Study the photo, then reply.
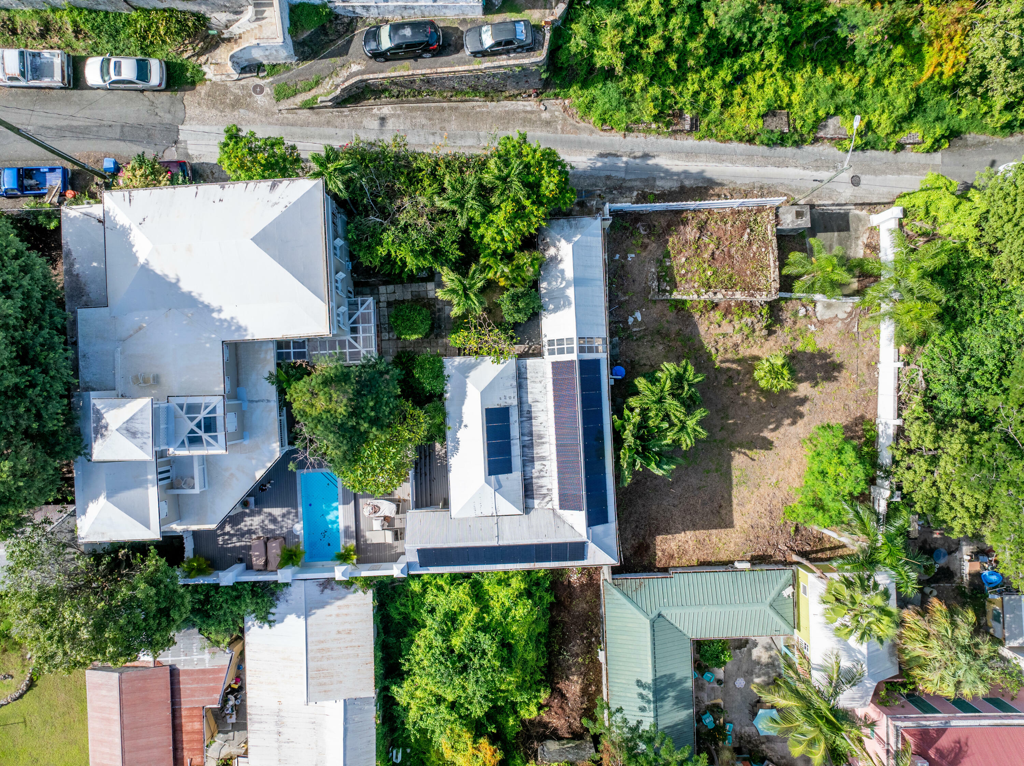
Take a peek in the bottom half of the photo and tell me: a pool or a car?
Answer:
pool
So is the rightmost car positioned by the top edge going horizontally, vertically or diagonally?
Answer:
horizontally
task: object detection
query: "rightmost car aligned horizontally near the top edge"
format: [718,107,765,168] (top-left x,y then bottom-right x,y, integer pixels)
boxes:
[462,15,538,58]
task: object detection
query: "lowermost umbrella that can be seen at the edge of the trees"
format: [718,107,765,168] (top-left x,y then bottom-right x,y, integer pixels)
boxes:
[750,706,779,736]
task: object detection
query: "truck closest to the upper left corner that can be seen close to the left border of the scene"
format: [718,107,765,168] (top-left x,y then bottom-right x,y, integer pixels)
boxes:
[0,49,77,95]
